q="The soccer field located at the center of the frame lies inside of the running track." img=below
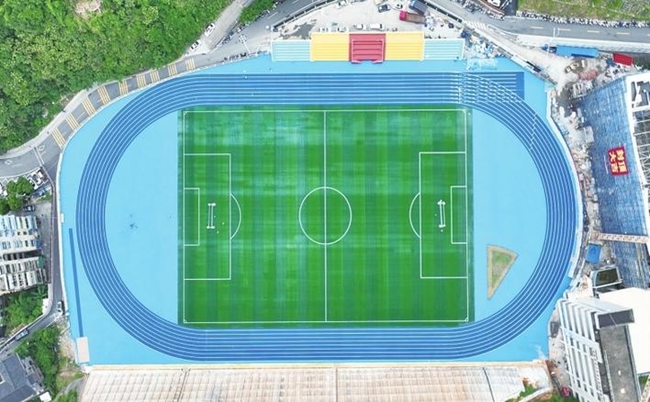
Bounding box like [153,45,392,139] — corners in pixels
[178,105,474,328]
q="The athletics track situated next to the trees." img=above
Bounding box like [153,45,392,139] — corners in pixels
[63,50,578,363]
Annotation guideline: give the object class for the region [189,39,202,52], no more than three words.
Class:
vehicle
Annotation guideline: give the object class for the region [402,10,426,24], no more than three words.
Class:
vehicle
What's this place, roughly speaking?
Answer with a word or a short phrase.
sports ground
